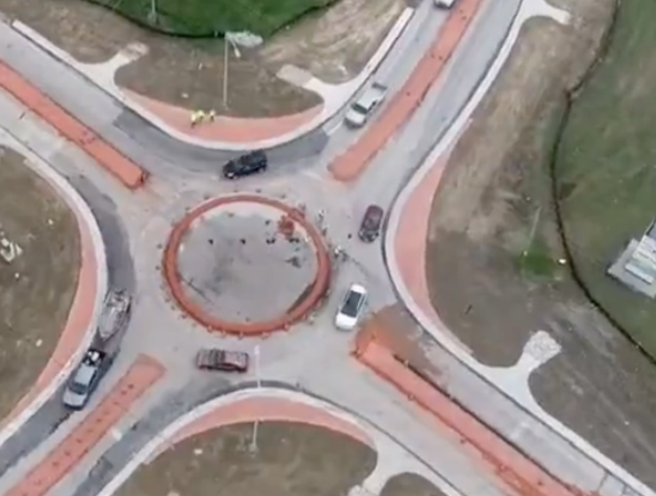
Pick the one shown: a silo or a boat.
boat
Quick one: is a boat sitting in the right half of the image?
No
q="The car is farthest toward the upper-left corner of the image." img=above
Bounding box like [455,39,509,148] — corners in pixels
[222,148,268,181]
